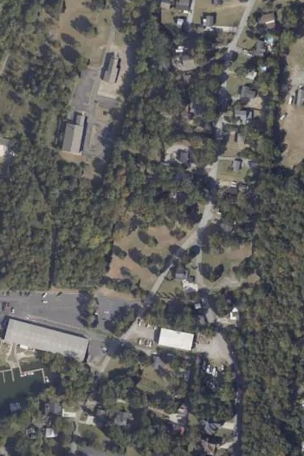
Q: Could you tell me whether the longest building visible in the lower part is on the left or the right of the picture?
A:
left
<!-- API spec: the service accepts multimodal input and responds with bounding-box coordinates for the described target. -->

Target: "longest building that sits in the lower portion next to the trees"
[5,320,90,361]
